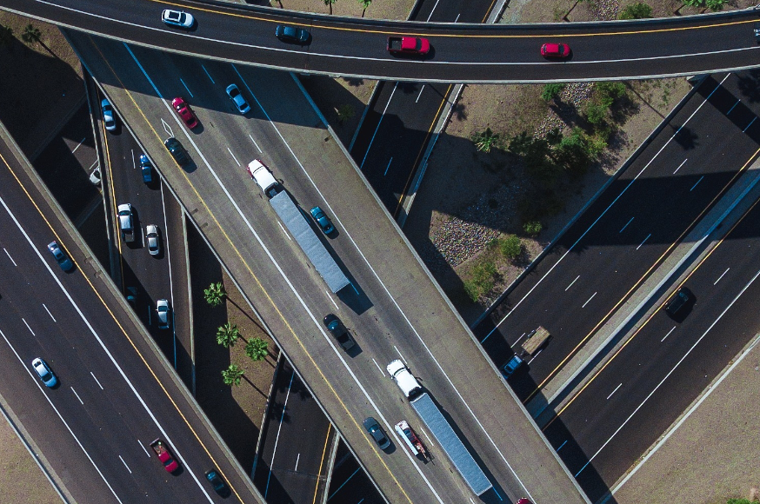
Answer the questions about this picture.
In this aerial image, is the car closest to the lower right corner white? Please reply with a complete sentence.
No, the color of the car closest to the lower right corner is black.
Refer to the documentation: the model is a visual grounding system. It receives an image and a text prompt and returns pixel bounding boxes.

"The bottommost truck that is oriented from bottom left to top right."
[501,355,528,383]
